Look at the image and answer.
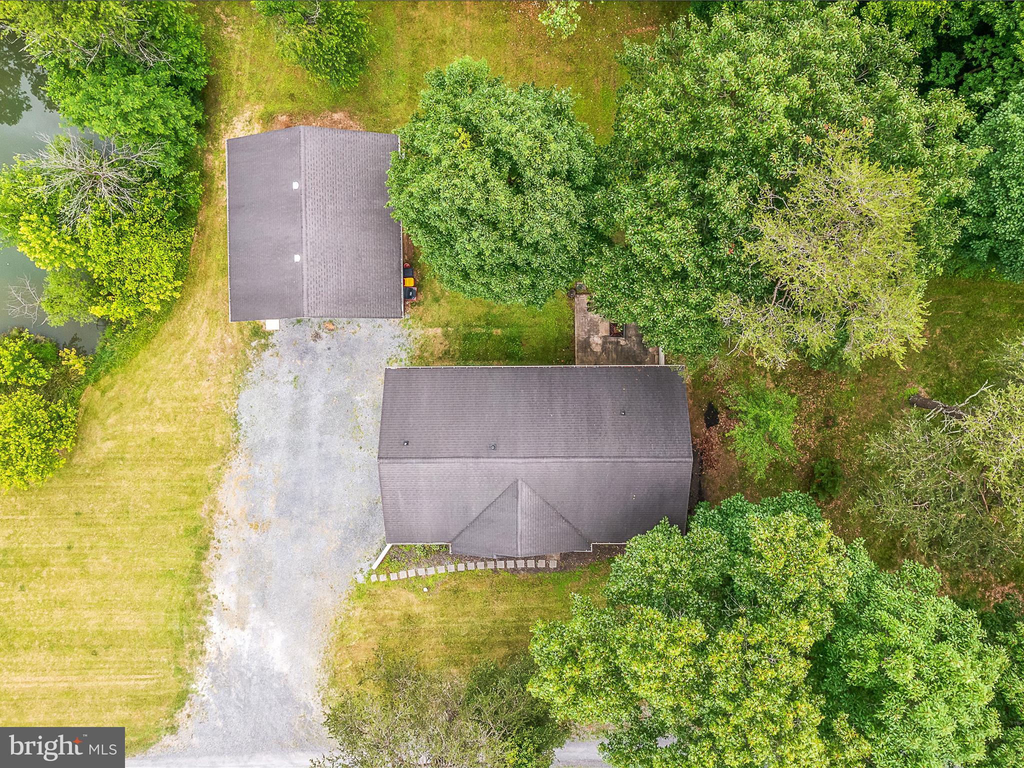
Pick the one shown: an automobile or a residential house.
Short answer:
residential house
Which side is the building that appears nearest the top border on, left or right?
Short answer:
left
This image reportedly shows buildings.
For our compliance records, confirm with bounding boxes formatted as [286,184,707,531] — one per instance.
[378,365,694,559]
[223,124,406,322]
